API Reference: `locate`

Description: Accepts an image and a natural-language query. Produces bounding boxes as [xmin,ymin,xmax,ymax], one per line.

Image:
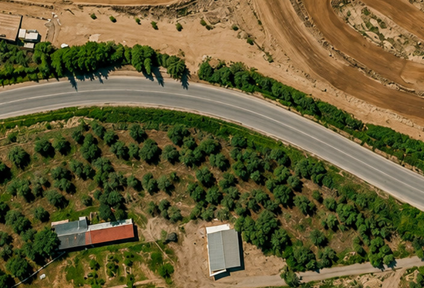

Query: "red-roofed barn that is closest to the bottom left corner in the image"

[86,216,137,244]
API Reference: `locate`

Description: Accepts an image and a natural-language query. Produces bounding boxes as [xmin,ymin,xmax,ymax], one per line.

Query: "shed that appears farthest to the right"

[206,222,241,276]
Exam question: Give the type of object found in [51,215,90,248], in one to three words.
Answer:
barn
